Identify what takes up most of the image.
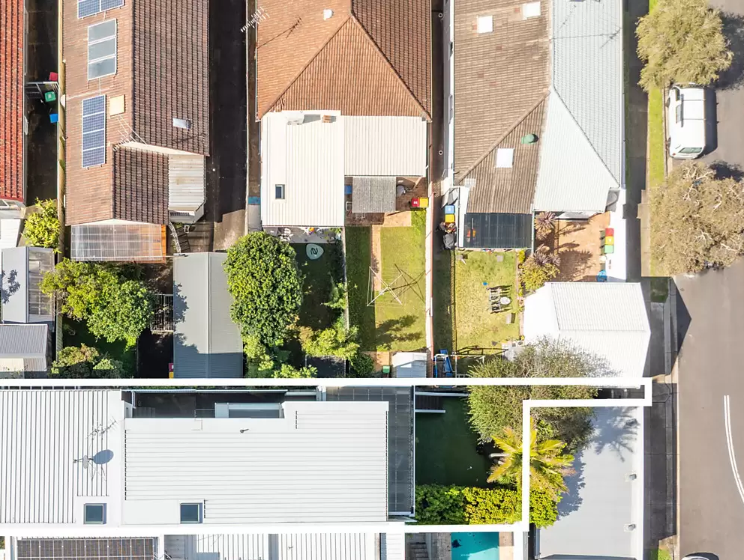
buildings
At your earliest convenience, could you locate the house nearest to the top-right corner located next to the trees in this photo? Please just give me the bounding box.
[444,0,622,247]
